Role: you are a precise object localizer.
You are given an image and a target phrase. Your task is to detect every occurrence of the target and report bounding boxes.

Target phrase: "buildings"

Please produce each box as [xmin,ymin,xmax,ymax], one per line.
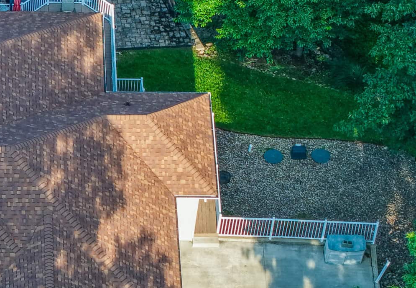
[0,7,223,288]
[326,228,370,262]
